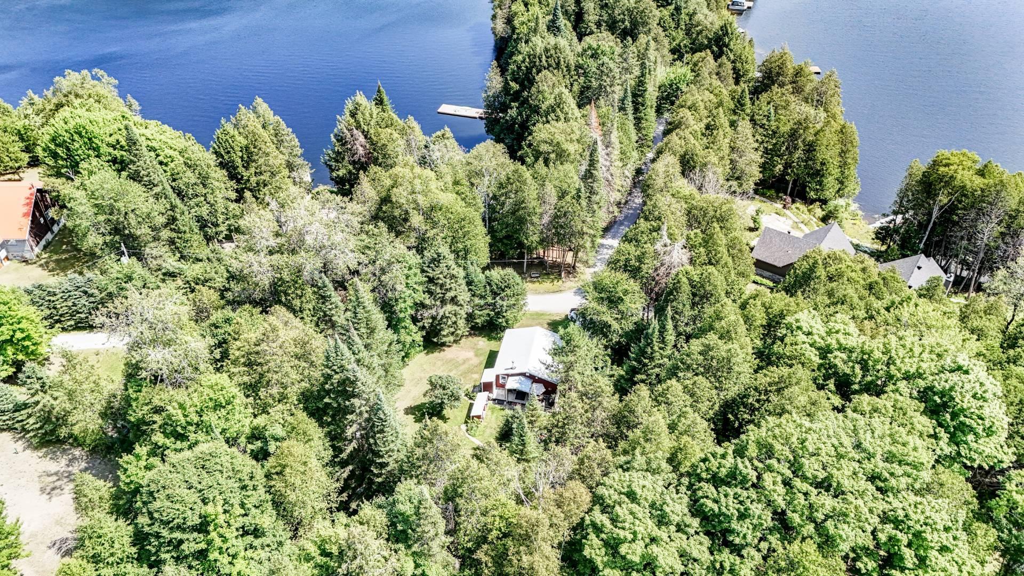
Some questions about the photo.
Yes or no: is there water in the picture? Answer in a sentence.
Yes, there is water in the image.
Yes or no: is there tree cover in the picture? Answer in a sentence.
Yes, there's tree cover in this view.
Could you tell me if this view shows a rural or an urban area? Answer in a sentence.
The land in this view is best described as rural.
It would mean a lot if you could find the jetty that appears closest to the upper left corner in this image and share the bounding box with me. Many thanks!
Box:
[438,104,483,120]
